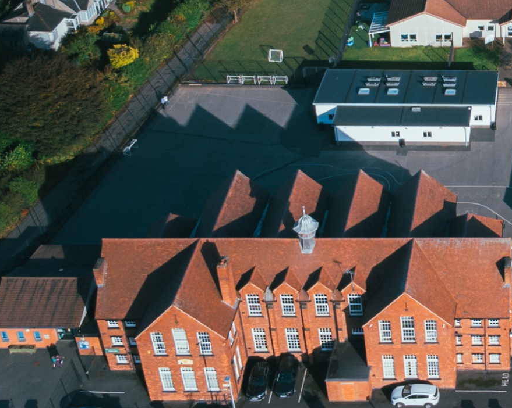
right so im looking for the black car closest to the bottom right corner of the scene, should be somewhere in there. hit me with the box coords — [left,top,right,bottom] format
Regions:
[271,355,299,394]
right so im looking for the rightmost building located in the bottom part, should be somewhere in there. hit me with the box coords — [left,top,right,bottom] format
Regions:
[84,169,512,400]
